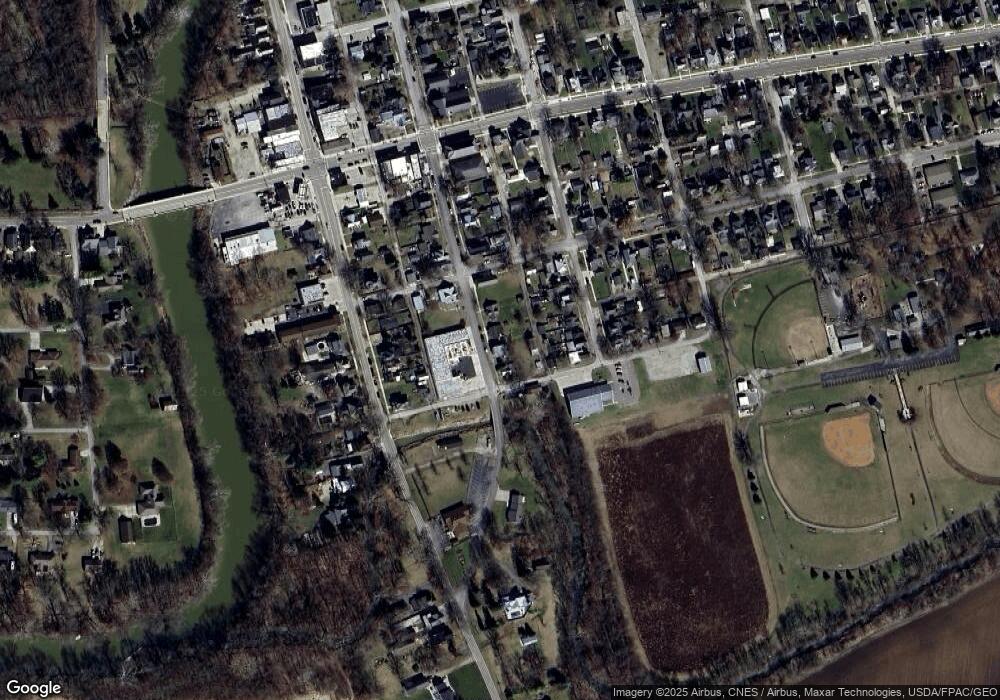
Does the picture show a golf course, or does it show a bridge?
bridge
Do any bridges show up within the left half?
Yes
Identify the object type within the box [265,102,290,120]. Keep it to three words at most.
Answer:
building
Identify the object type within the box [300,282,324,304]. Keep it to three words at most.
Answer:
building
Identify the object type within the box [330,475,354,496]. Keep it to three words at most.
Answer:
house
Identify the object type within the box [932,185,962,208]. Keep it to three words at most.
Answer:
house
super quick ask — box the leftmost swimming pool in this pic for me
[141,515,160,528]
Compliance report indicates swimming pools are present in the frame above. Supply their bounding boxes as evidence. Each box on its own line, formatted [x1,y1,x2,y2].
[141,515,160,528]
[316,340,326,350]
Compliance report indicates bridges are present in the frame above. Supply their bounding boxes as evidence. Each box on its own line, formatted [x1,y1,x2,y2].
[117,189,207,224]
